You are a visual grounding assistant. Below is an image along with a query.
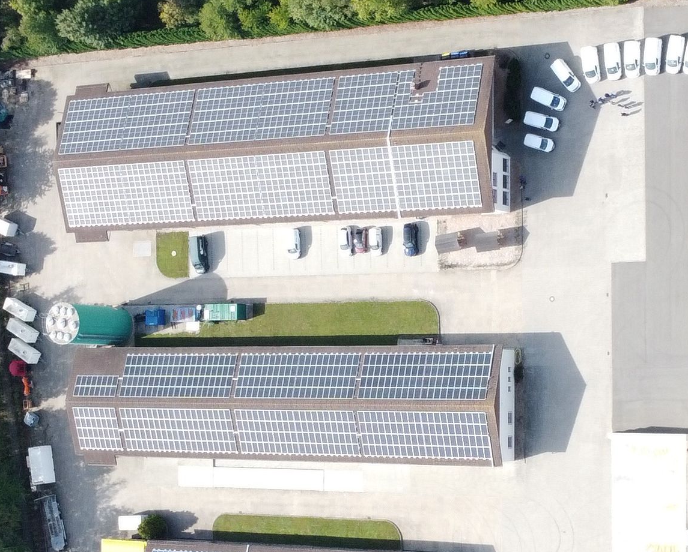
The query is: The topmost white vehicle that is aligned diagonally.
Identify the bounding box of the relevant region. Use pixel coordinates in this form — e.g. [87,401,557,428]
[550,58,582,93]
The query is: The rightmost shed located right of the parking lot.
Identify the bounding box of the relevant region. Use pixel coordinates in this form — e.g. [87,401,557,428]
[473,233,502,252]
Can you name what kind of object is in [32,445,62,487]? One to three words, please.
truck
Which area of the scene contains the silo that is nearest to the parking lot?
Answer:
left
